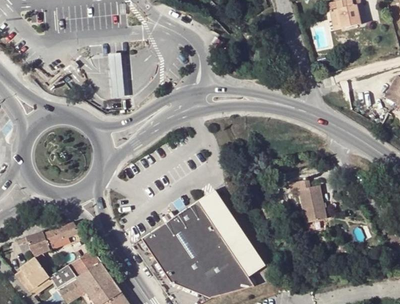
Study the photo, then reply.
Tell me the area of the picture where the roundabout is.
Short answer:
left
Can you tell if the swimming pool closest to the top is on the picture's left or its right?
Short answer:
right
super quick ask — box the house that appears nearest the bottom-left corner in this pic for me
[15,257,52,292]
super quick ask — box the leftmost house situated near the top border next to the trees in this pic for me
[328,0,362,31]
